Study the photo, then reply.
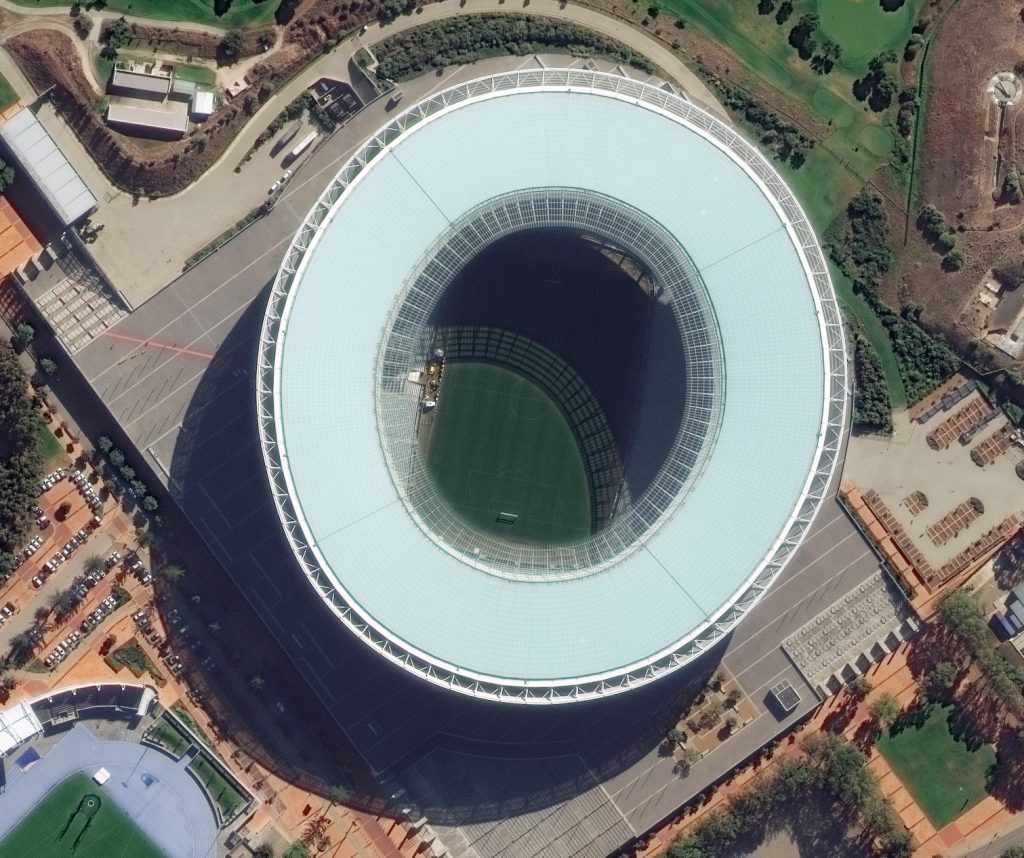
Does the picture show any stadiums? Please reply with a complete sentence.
Yes, the picture does show a stadium.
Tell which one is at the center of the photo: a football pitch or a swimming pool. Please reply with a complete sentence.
Looking at the center of the photo, you will find a football pitch.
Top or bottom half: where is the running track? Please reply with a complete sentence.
It is in the bottom half that the running track appears.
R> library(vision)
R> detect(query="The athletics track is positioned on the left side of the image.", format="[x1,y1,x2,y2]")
[0,724,218,858]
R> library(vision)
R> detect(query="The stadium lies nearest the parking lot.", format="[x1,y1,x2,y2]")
[255,66,852,706]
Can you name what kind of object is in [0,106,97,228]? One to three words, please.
building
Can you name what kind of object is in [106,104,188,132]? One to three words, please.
house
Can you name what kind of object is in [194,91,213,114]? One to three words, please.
house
